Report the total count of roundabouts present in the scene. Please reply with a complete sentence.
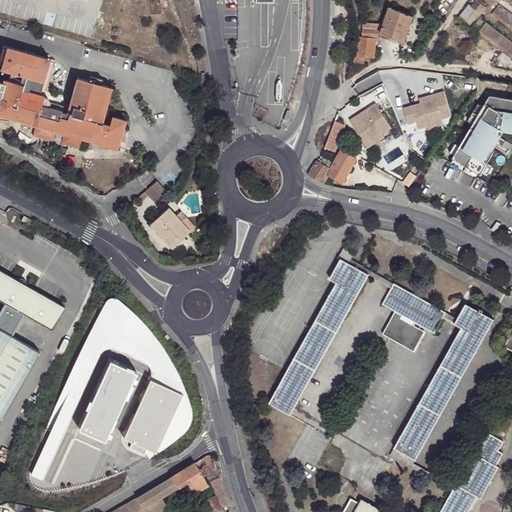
In total, there are 2 roundabouts in the scene.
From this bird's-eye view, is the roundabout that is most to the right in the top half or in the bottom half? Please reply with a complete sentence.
The top half of the photo is where the roundabout that is most to the right is.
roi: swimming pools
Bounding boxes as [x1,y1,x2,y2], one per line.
[496,154,506,166]
[384,146,404,165]
[182,192,201,214]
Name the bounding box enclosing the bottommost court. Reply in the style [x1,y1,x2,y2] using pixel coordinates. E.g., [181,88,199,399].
[246,236,345,369]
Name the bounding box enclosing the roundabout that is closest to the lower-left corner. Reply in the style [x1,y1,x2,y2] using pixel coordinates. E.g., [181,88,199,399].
[163,270,231,338]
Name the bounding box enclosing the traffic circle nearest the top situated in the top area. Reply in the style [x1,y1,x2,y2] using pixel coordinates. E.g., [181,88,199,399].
[217,135,304,221]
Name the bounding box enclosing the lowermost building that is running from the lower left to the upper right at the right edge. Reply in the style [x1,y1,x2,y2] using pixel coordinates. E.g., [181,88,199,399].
[440,437,504,512]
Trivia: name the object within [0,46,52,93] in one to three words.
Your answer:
house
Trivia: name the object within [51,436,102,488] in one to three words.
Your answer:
building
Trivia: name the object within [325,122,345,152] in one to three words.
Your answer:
shed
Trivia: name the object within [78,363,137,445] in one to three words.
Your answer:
building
